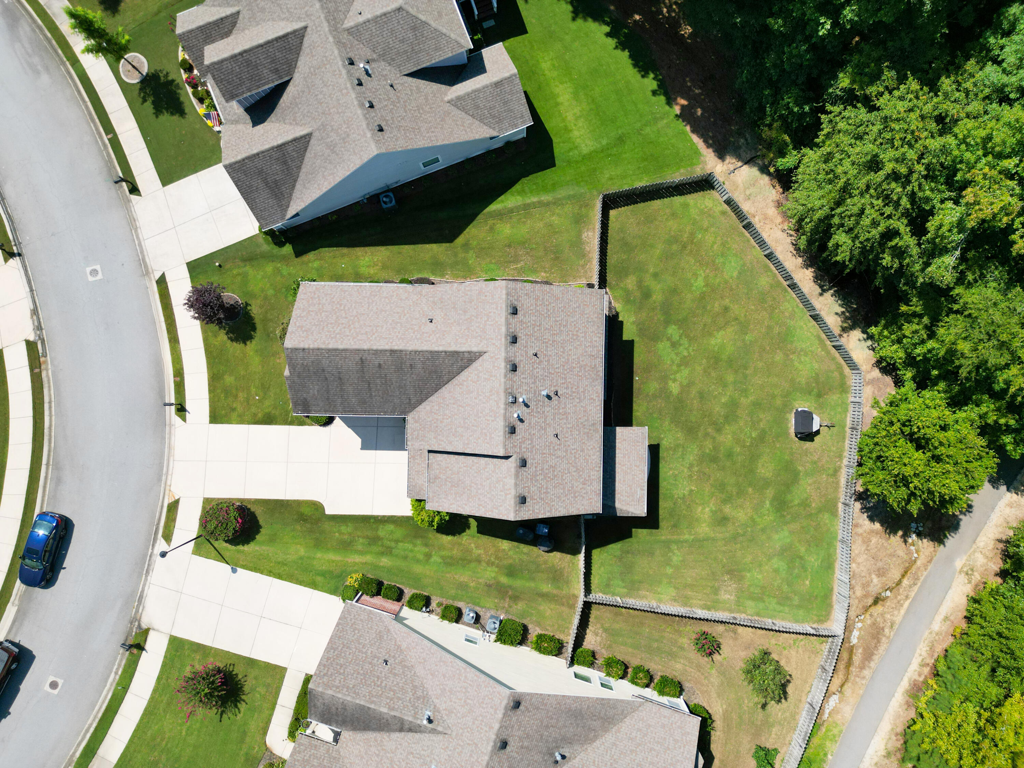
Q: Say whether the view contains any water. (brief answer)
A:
No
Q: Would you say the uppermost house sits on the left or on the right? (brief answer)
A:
left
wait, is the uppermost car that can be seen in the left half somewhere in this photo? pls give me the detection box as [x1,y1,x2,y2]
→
[18,510,69,586]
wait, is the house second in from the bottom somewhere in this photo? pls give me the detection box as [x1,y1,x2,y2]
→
[283,280,648,520]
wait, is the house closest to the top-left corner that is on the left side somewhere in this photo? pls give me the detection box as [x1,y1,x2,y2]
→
[176,0,533,235]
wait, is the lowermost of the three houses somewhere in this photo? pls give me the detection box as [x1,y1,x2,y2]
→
[285,588,702,768]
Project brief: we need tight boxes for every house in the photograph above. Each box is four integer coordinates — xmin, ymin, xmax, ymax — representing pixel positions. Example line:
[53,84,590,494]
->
[176,0,533,235]
[283,280,648,520]
[285,588,702,768]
